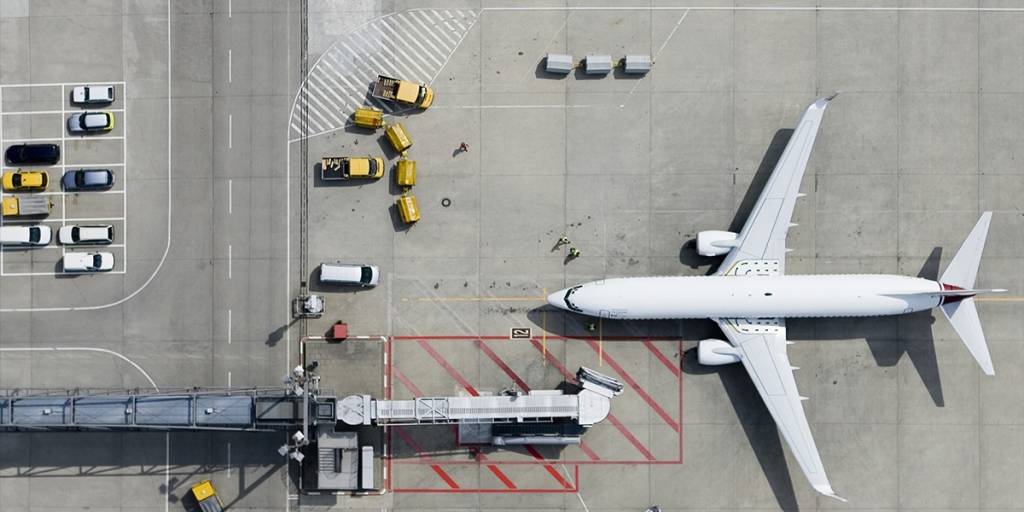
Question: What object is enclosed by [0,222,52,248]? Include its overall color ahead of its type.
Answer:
white vehicle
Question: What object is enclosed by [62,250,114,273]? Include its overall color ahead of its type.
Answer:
white vehicle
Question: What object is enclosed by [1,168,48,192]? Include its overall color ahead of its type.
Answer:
yellow car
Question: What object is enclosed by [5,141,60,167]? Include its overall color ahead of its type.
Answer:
black car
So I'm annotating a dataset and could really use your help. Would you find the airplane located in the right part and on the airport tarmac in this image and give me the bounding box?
[546,91,1005,500]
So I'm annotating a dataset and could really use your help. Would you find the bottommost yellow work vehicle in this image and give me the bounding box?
[192,479,226,512]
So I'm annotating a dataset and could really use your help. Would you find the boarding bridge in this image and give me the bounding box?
[338,368,622,446]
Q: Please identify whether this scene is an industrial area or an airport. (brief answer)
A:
airport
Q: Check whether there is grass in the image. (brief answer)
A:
No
